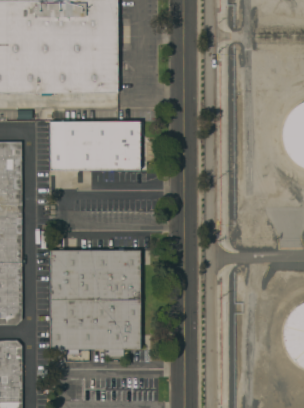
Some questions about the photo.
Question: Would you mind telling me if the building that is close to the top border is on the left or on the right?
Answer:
left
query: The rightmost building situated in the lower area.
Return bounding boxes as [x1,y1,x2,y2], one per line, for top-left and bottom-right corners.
[49,250,140,358]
